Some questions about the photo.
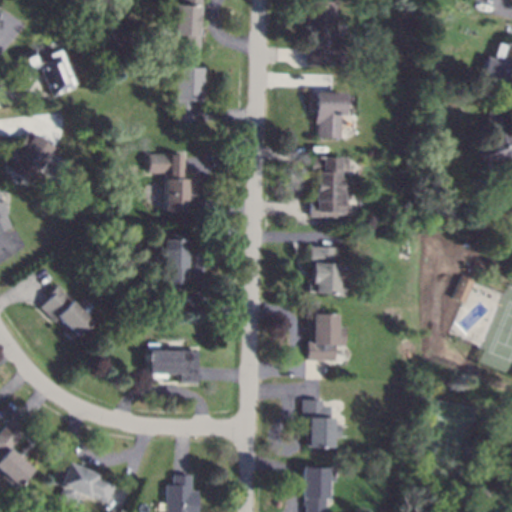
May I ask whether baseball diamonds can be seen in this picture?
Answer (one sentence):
No, no baseball diamond is visible in the view.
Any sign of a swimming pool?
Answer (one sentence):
Yes, a swimming pool is visible in the scene.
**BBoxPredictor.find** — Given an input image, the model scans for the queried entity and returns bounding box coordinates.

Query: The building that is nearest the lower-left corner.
[0,428,32,492]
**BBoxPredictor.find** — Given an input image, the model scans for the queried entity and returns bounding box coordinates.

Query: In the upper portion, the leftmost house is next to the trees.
[8,138,55,182]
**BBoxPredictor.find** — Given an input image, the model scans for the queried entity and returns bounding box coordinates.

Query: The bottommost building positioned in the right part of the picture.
[304,469,334,512]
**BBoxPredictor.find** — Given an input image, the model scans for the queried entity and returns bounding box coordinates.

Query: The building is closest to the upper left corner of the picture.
[36,50,78,96]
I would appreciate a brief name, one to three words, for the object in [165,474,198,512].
house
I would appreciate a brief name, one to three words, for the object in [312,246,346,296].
house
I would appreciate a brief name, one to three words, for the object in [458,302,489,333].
swimming pool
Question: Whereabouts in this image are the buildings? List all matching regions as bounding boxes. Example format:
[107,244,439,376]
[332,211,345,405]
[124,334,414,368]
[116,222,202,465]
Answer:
[63,462,118,506]
[312,156,350,219]
[304,469,334,512]
[308,314,348,360]
[490,40,512,78]
[36,50,78,96]
[149,151,194,212]
[43,288,92,332]
[0,428,32,492]
[164,238,191,284]
[165,474,198,512]
[312,246,346,296]
[302,400,344,450]
[152,350,199,382]
[178,66,208,109]
[8,138,55,182]
[178,0,204,48]
[317,92,353,140]
[453,276,474,304]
